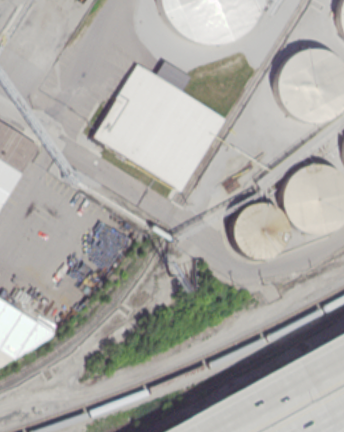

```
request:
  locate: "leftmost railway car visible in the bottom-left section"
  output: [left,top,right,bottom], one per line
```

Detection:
[25,412,88,432]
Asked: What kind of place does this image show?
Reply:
industrial area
